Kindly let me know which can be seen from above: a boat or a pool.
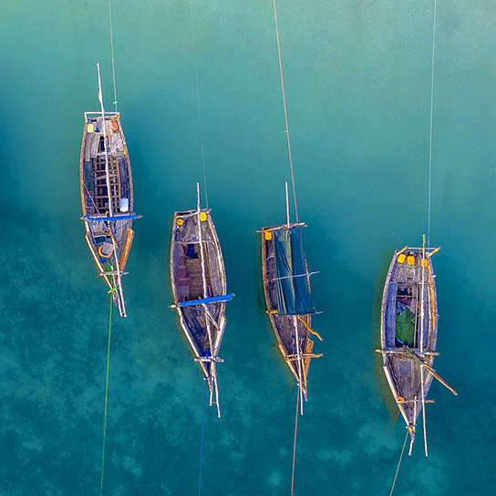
boat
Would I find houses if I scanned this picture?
No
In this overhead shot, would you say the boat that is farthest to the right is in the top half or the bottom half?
bottom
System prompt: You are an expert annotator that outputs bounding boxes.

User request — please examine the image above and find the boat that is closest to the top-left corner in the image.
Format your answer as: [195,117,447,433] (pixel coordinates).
[79,63,142,316]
